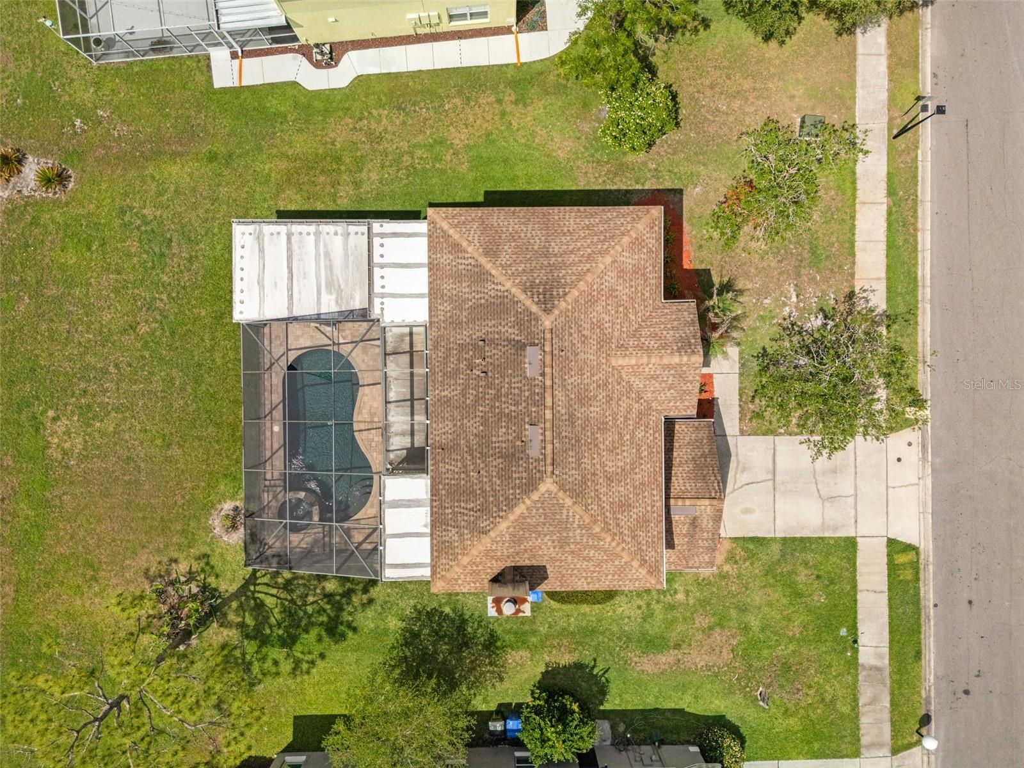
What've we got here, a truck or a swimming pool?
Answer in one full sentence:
Visible in the photo is a swimming pool.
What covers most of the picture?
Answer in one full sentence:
The largest share of the image is taken up by grass.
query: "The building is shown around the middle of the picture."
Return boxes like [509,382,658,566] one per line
[428,204,727,617]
